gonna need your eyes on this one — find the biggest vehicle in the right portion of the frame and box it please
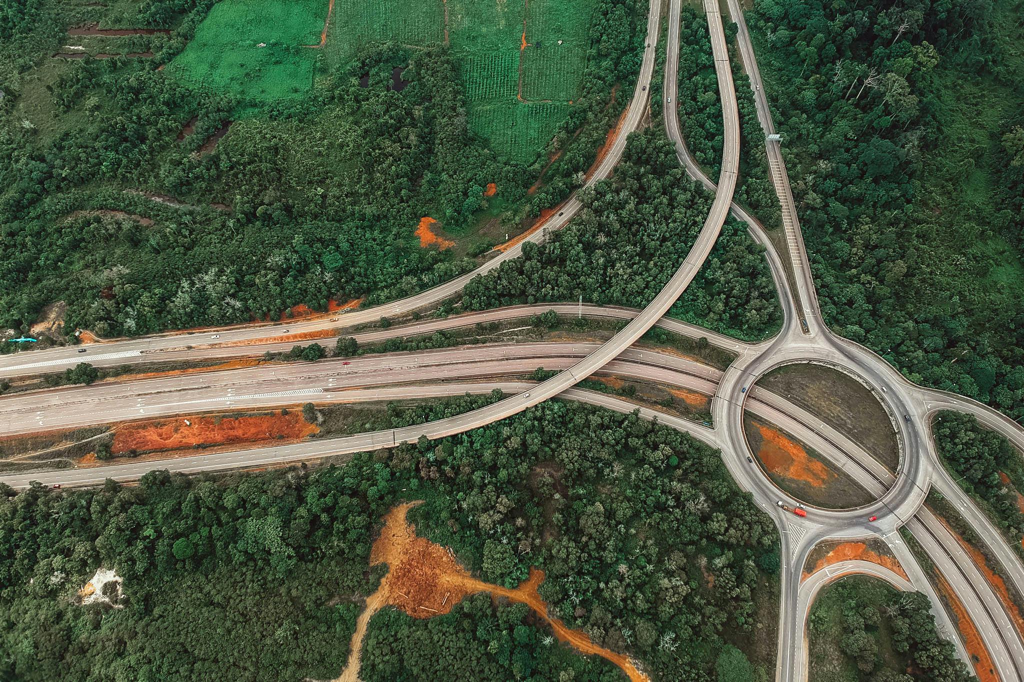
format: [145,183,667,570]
[778,499,809,520]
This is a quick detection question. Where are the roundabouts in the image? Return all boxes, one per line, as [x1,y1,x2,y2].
[704,305,959,581]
